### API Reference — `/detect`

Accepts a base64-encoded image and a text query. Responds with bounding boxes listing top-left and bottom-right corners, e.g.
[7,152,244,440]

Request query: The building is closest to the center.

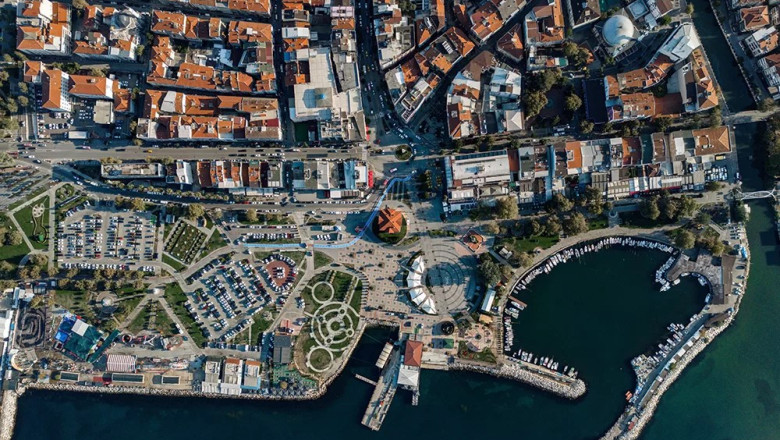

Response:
[378,209,404,234]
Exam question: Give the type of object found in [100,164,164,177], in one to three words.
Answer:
building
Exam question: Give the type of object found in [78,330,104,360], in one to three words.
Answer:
tent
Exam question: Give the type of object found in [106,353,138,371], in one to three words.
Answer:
tent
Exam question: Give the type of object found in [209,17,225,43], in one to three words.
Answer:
house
